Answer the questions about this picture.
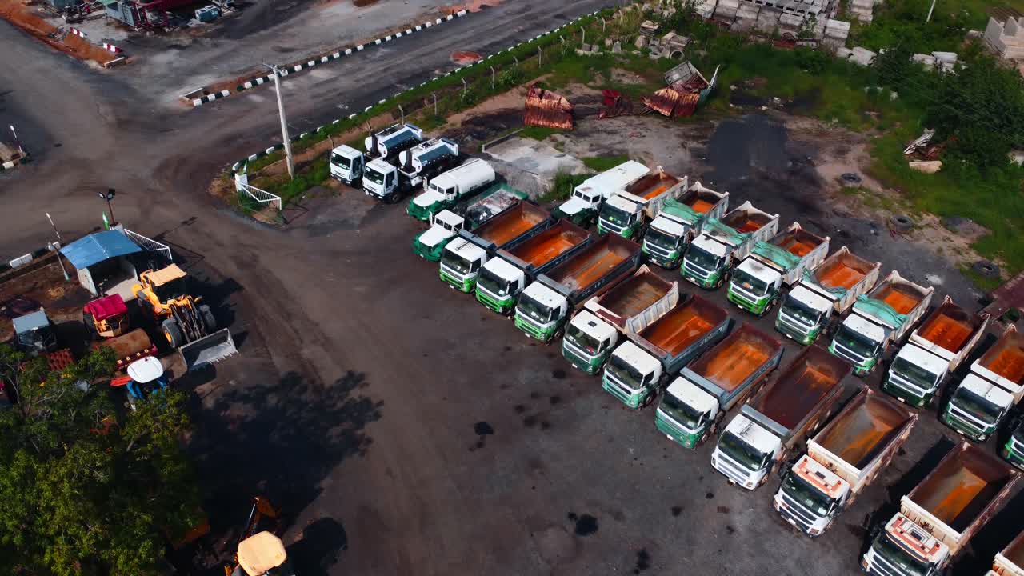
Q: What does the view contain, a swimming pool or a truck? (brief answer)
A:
truck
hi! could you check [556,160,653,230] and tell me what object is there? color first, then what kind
white truck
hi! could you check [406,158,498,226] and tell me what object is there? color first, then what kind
white truck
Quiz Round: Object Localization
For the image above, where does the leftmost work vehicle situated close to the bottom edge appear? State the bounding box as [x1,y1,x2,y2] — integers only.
[223,501,292,576]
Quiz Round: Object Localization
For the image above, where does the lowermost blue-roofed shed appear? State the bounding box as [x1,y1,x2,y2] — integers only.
[60,230,140,295]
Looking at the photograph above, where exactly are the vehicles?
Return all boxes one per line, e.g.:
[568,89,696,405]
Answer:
[829,269,935,374]
[12,307,92,379]
[120,262,244,374]
[363,134,460,201]
[223,501,292,576]
[513,233,642,341]
[406,158,498,226]
[775,390,915,533]
[775,246,881,345]
[865,442,1018,576]
[330,120,424,185]
[128,361,181,424]
[438,202,550,293]
[597,164,689,242]
[412,187,523,265]
[883,296,991,408]
[681,200,780,289]
[79,295,156,369]
[641,182,733,267]
[942,324,1024,443]
[556,160,653,230]
[560,265,680,374]
[602,294,728,408]
[726,222,830,314]
[712,345,855,489]
[654,325,782,447]
[474,219,588,314]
